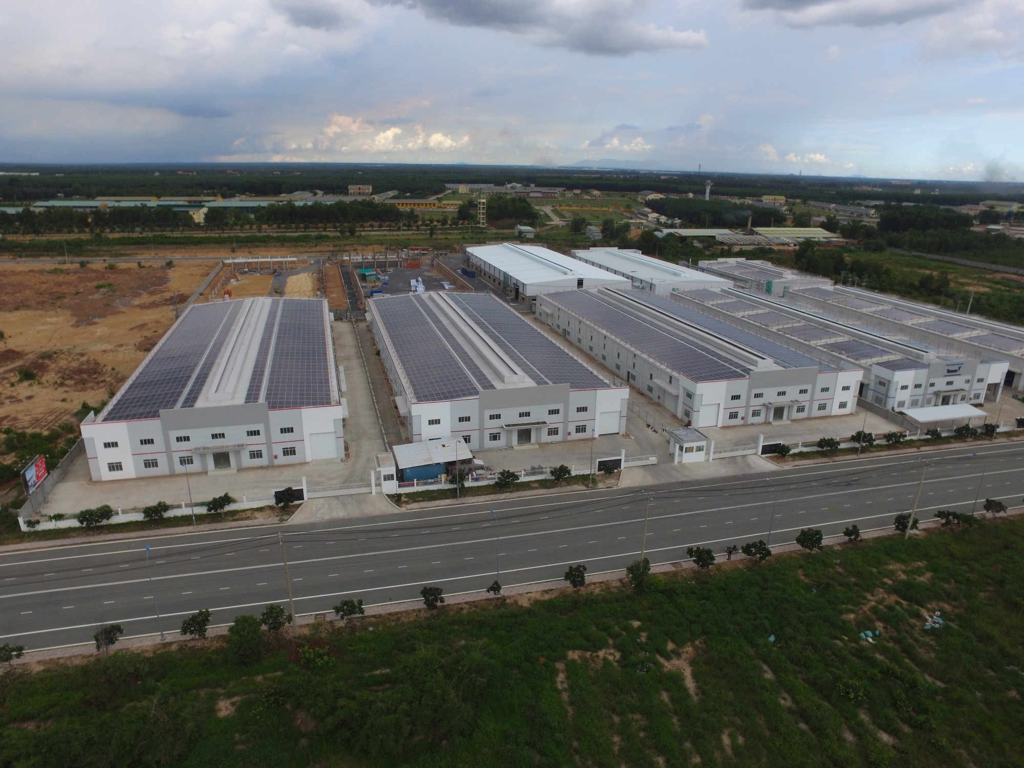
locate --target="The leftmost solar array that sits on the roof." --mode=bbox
[104,299,326,421]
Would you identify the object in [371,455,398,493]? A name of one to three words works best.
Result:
building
